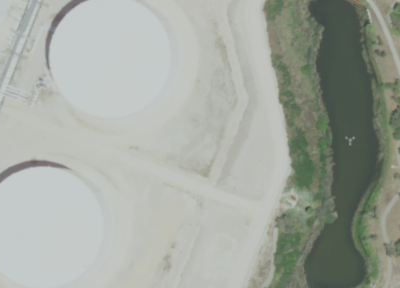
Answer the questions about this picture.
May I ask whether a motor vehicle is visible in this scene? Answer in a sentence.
No, there is no motor vehicle in the image.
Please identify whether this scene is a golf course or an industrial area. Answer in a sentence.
The area seen from above is an industrial area.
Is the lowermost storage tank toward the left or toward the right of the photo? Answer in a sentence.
You can find the lowermost storage tank on the left side of the picture.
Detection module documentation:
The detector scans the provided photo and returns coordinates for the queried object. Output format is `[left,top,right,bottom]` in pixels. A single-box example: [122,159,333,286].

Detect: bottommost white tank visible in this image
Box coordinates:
[0,166,114,288]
